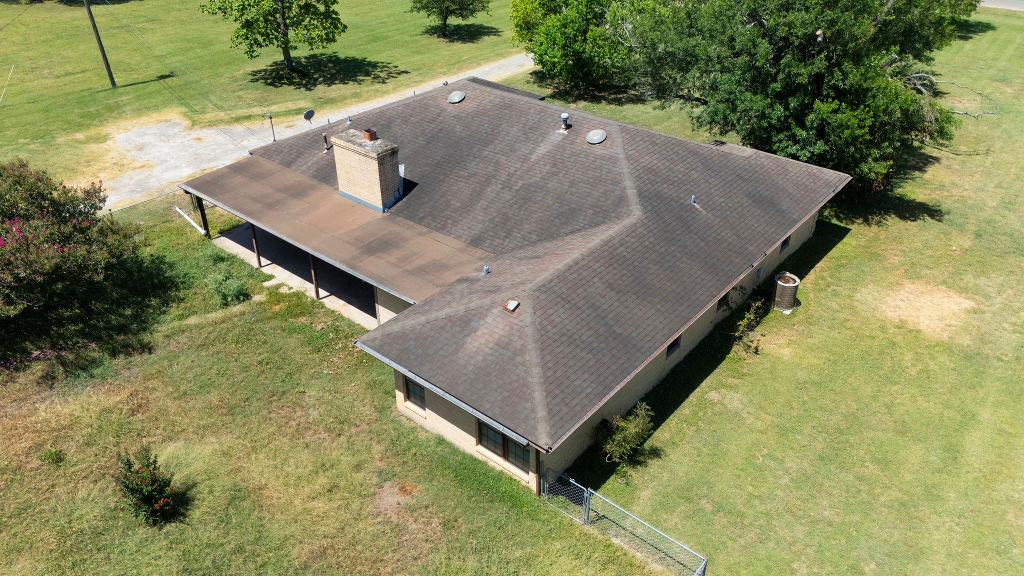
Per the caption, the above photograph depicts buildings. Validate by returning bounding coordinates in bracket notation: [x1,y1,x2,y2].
[176,80,855,501]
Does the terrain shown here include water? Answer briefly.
No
